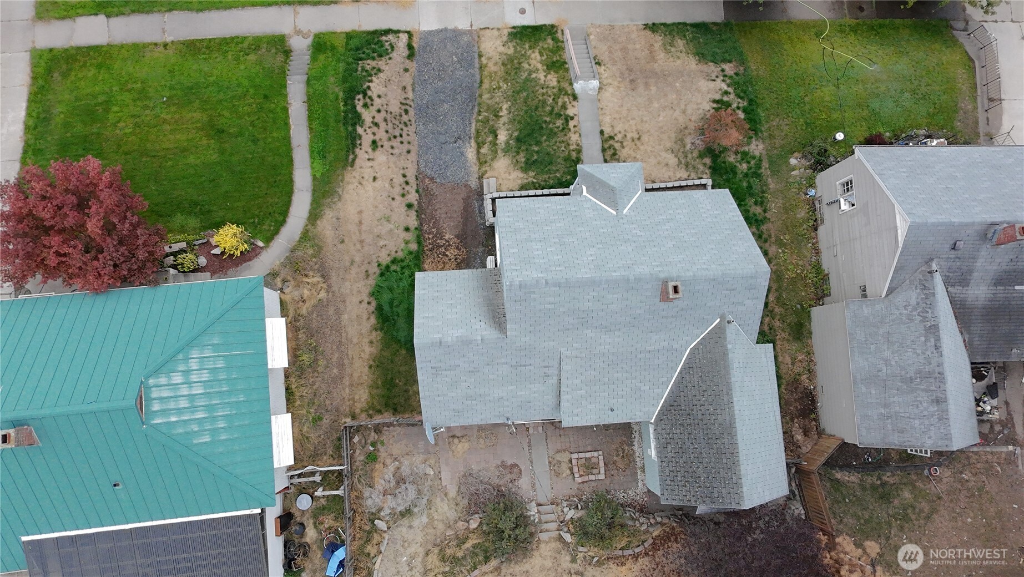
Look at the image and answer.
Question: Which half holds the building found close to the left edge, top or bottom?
bottom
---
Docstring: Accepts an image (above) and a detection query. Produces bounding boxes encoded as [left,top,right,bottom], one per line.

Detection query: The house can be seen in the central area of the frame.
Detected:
[413,162,789,514]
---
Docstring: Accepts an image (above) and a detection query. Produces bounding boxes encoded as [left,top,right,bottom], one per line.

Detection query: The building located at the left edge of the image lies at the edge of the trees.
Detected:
[0,274,297,577]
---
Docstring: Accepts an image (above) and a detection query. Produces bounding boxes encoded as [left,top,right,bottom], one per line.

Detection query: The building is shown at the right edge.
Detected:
[811,142,1024,451]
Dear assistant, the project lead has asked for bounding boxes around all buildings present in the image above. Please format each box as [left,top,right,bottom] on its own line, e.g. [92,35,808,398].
[0,274,297,577]
[413,162,789,514]
[811,142,1024,451]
